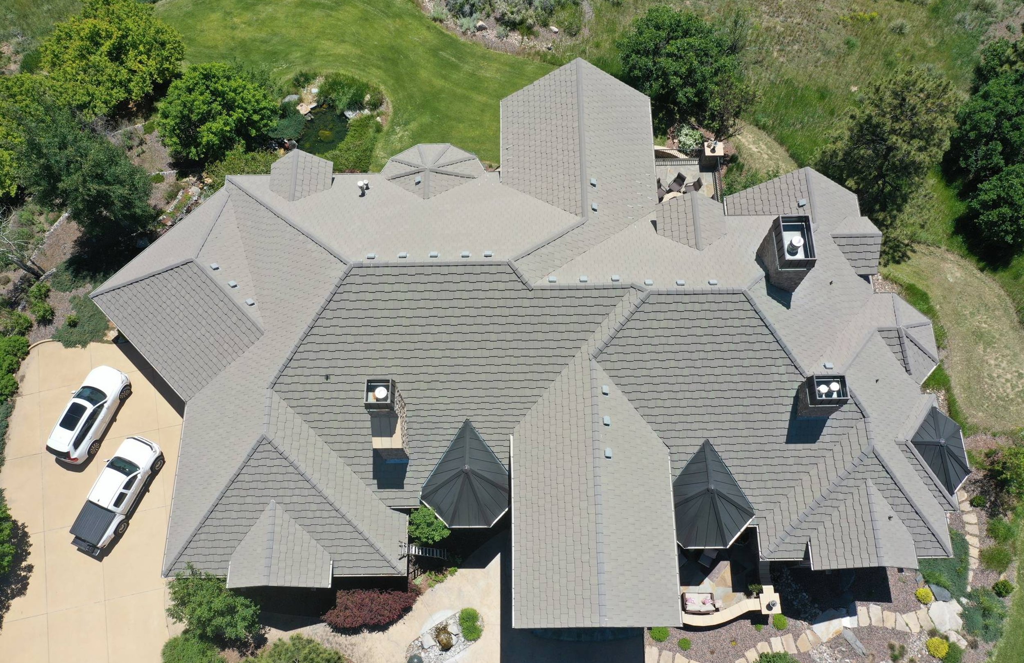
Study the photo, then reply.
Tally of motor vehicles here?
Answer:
2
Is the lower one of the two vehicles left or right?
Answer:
left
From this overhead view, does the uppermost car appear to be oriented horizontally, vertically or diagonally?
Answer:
diagonally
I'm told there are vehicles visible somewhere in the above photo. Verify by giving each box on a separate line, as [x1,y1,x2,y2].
[43,366,131,466]
[69,433,166,555]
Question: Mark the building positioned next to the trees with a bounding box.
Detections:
[87,56,974,628]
